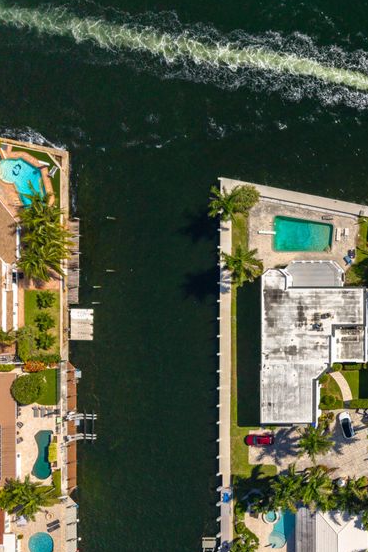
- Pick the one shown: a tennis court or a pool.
pool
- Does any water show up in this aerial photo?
Yes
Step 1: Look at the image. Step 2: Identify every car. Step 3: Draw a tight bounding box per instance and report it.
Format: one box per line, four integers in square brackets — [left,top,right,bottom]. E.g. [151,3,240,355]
[244,433,272,448]
[337,410,354,440]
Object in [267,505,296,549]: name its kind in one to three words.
swimming pool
